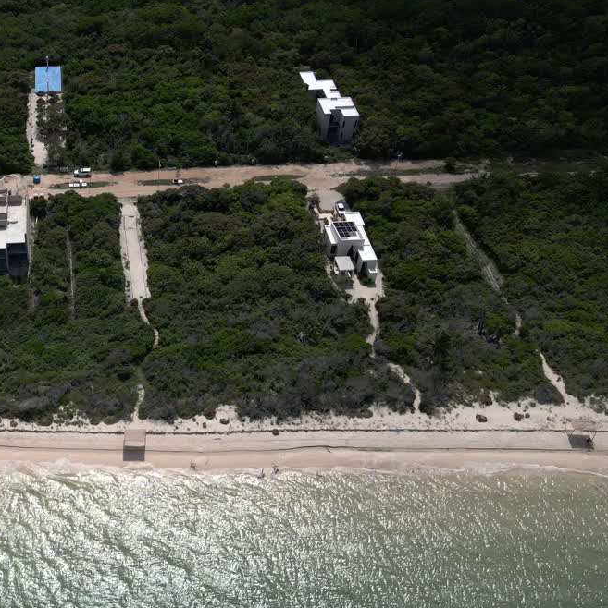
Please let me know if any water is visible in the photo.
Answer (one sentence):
Yes, water shows up in the scene.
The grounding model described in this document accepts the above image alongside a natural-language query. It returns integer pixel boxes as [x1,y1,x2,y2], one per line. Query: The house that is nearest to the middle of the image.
[319,212,378,282]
